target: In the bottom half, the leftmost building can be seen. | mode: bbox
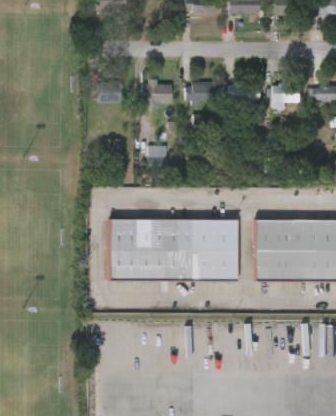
[106,220,239,282]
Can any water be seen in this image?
No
